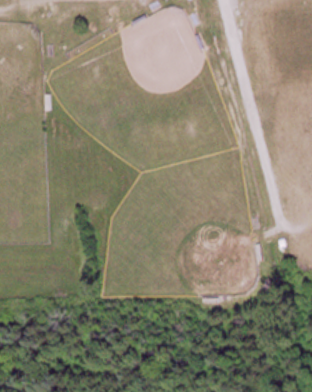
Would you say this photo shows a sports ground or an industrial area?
sports ground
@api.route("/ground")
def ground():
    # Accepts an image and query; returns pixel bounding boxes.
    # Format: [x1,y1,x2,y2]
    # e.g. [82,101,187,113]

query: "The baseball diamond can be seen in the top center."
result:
[48,6,240,172]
